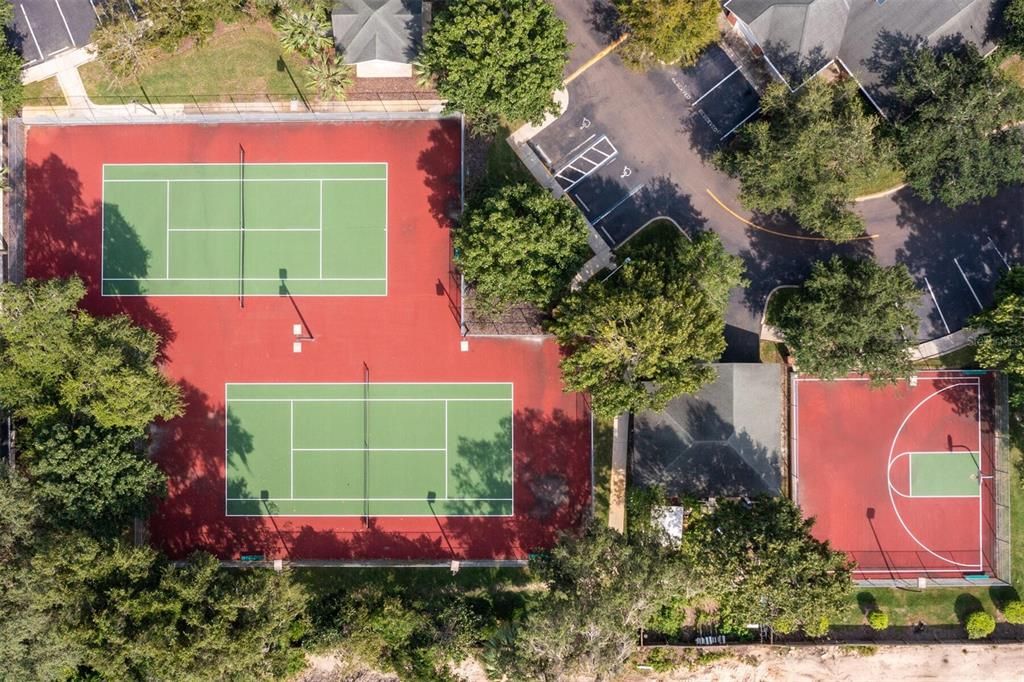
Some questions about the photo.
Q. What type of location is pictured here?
sports ground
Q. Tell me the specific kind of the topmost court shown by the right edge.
basketball court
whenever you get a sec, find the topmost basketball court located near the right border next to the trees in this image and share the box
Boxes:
[793,371,996,578]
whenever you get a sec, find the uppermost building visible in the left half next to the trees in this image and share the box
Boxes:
[331,0,422,76]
